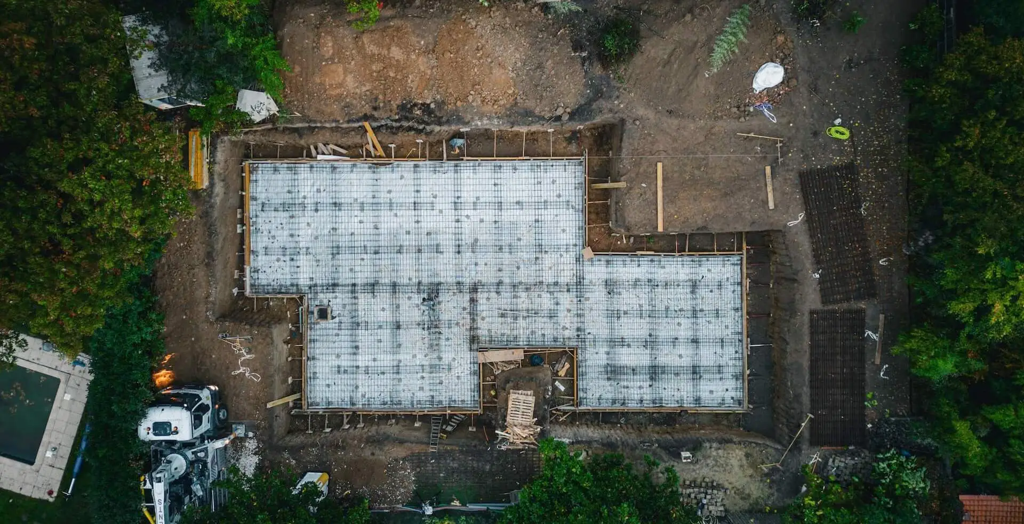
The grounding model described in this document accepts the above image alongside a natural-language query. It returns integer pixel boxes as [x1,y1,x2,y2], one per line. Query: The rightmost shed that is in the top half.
[236,81,279,127]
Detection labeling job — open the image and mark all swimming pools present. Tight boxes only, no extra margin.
[0,356,72,478]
